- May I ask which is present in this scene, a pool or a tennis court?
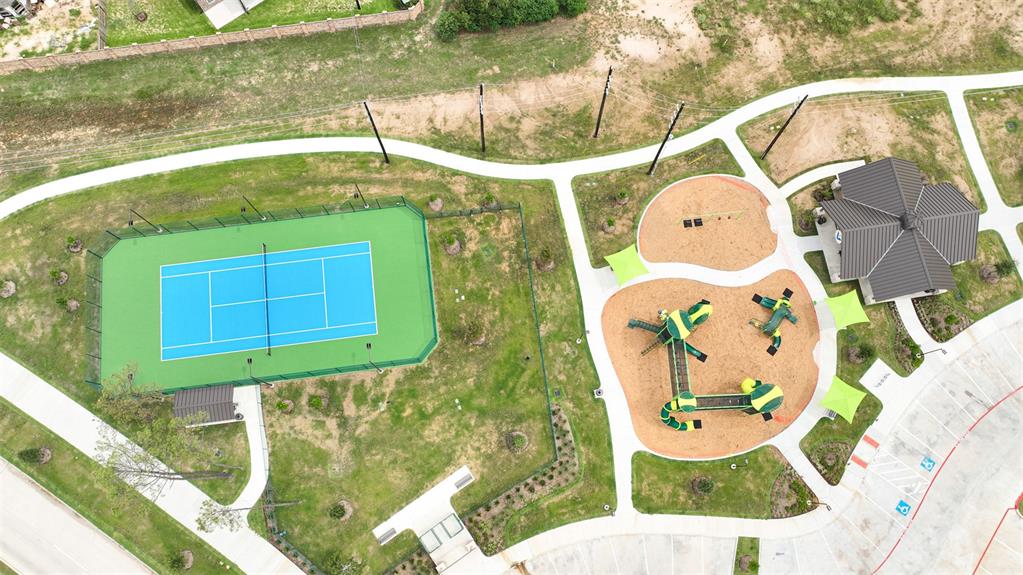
tennis court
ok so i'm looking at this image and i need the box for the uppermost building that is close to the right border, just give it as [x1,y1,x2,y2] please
[812,157,979,304]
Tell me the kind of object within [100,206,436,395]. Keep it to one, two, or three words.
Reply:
tennis court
